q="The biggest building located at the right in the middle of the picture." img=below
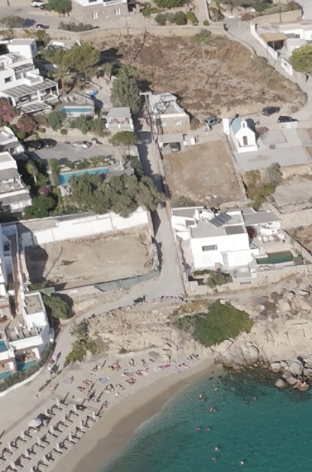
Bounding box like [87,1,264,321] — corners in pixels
[172,207,297,281]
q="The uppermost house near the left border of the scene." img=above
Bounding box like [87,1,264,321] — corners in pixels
[0,39,60,117]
